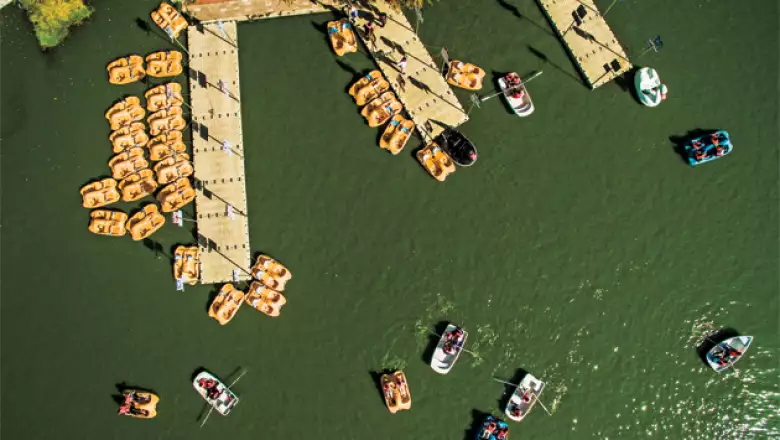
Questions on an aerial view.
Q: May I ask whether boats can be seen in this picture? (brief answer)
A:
Yes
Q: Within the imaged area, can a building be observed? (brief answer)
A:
No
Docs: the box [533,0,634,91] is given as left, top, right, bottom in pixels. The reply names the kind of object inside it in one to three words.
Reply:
pier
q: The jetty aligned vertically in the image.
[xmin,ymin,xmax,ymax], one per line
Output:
[185,23,252,285]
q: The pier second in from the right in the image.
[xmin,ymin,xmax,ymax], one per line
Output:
[340,0,470,145]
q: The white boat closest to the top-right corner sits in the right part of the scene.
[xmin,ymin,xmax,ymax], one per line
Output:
[633,67,666,108]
